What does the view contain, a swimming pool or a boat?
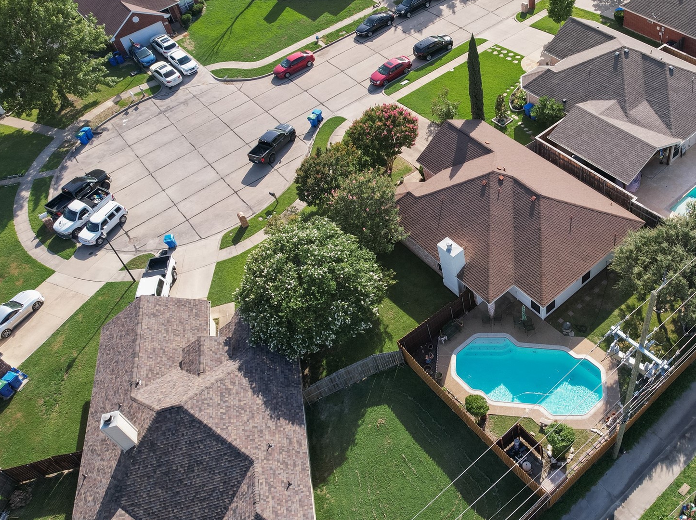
swimming pool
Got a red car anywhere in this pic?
Yes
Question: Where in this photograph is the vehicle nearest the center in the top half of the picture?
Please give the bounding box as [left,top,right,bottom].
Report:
[246,122,298,167]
